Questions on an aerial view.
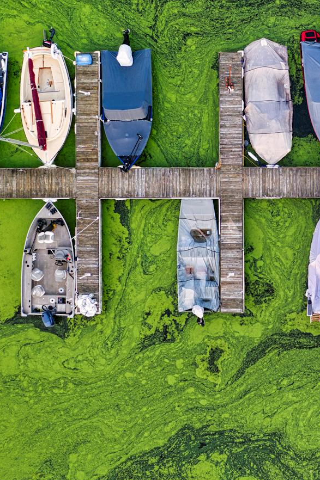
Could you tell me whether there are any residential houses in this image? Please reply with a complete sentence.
No, the photo shows no residential house.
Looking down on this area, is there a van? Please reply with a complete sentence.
No, no van can be seen from above.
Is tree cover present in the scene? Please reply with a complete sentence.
No, the picture contains no tree cover.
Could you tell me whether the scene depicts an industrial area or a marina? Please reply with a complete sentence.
The picture captures a marina.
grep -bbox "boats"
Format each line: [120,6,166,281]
[21,200,78,332]
[299,29,320,141]
[0,24,75,166]
[101,29,155,172]
[0,52,11,143]
[242,38,292,165]
[306,216,320,322]
[176,199,220,329]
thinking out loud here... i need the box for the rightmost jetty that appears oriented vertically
[218,50,246,314]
